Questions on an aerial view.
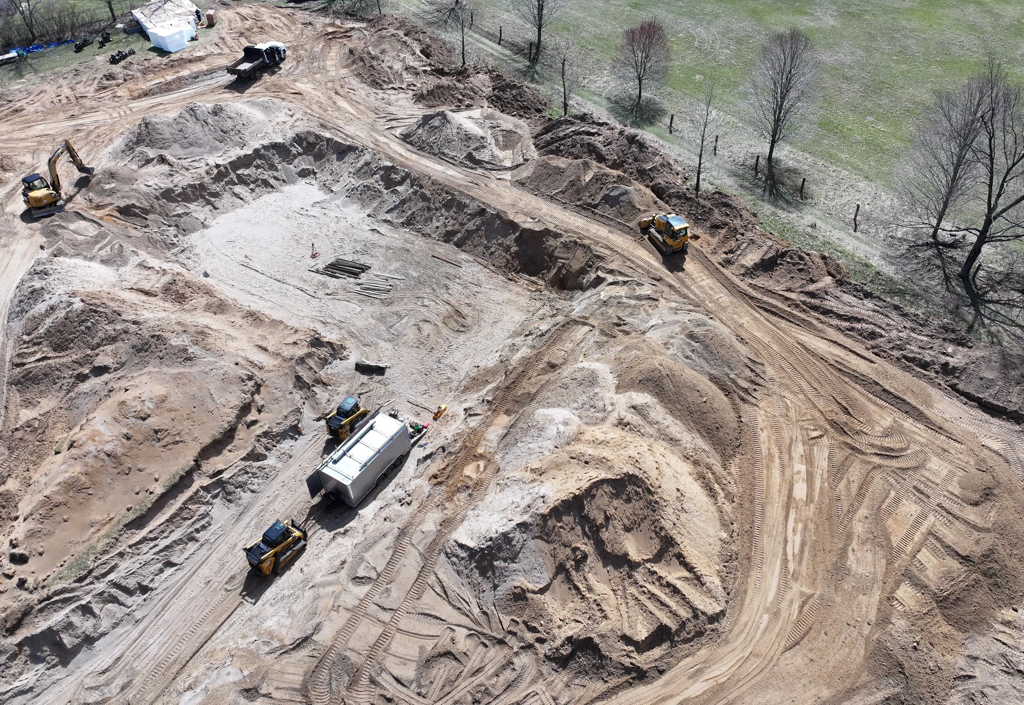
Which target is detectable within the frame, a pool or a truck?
truck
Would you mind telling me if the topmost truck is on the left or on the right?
left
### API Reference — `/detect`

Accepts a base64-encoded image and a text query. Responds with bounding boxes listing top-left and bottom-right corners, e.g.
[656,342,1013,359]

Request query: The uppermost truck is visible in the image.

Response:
[230,47,286,83]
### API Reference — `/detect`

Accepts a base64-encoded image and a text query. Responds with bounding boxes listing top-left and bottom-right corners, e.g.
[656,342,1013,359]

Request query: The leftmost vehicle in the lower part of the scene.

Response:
[242,520,315,580]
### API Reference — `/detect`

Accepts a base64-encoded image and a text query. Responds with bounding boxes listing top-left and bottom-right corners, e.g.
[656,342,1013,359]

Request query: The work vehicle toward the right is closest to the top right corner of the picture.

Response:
[634,207,686,252]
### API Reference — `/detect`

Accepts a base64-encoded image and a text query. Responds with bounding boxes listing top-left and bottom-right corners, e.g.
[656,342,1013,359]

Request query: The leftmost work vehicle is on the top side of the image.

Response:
[19,137,96,215]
